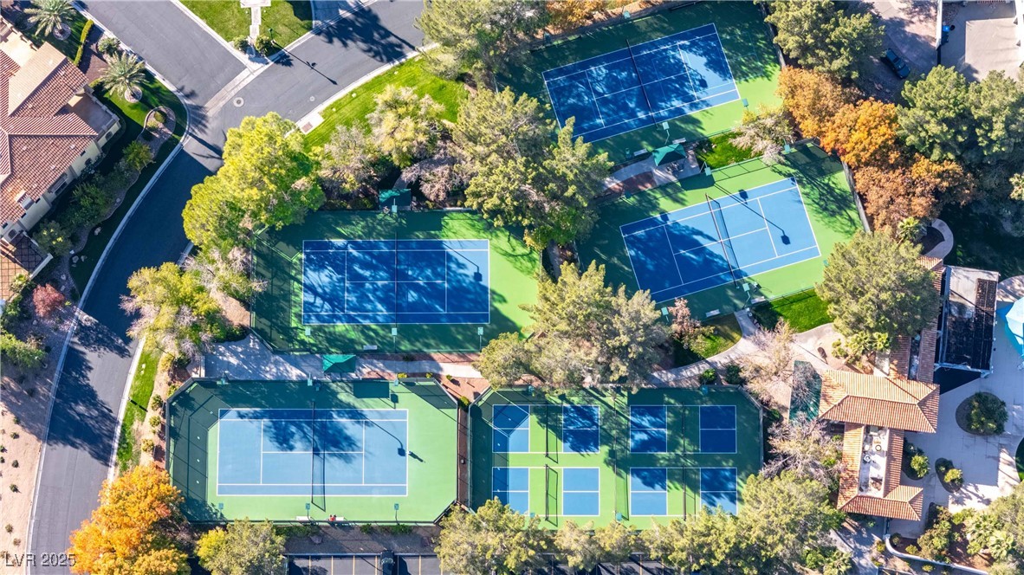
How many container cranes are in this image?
0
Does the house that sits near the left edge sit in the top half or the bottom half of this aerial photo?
top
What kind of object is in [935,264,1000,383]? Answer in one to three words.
building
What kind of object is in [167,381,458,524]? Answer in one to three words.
tennis court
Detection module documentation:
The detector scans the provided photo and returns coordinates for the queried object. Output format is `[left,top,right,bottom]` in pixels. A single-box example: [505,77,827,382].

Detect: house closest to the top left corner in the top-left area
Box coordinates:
[0,5,124,263]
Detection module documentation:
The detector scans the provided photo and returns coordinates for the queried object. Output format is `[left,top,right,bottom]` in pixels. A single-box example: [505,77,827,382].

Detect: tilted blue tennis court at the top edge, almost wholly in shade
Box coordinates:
[497,0,783,171]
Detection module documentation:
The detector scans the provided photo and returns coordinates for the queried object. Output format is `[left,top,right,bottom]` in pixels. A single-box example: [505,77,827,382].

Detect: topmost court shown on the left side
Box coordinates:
[253,213,538,352]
